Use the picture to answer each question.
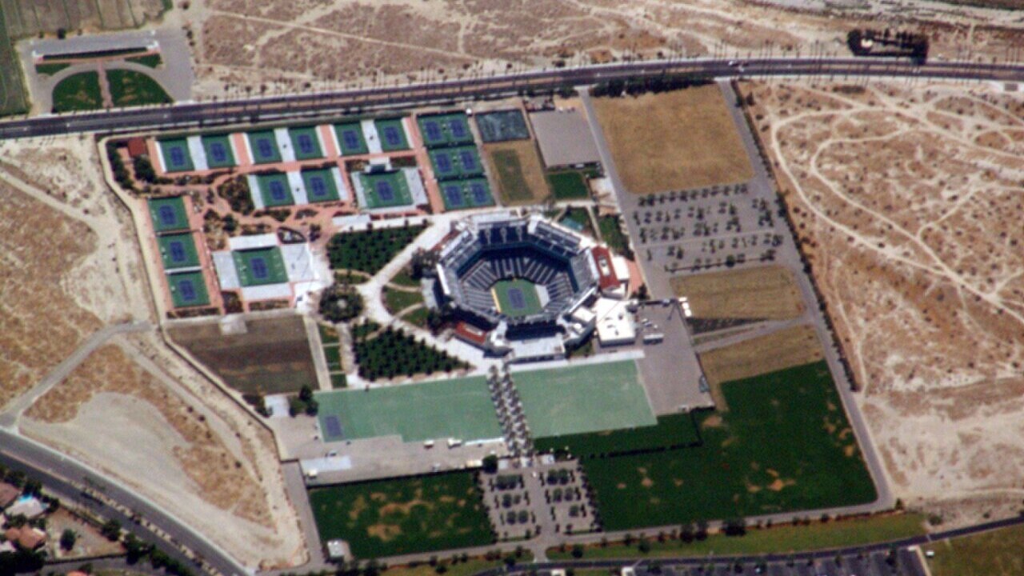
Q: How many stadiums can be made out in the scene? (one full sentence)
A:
In total, 1 stadium can be seen.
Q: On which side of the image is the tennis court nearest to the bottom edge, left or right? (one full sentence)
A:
The tennis court nearest to the bottom edge is on the left side of the image.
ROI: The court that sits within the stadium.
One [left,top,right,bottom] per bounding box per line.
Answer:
[493,277,551,315]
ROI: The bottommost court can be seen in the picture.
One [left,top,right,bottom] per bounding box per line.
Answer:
[319,412,345,440]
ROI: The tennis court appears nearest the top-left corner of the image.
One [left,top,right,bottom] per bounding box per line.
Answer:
[160,135,194,172]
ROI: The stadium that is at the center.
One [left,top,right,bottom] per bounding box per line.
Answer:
[426,214,601,365]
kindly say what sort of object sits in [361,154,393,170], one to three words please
building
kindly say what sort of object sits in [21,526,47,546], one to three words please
house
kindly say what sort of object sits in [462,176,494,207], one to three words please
tennis court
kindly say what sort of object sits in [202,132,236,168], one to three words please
tennis court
